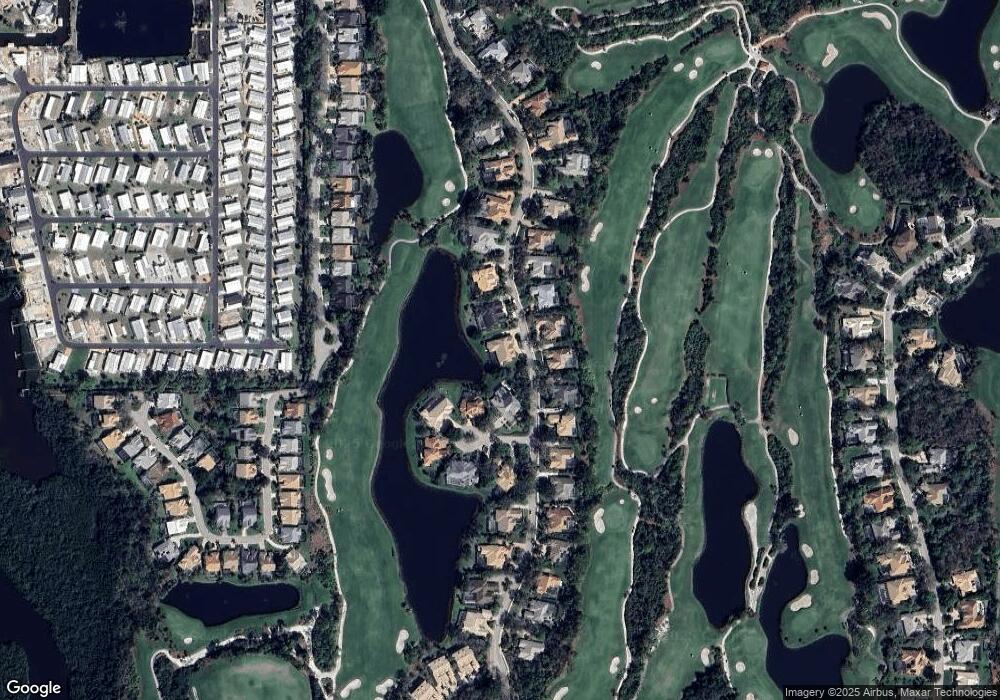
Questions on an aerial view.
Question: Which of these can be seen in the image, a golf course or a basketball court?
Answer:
golf course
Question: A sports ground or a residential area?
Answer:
residential area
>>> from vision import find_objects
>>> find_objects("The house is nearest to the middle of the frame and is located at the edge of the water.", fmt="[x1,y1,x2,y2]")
[481,336,516,361]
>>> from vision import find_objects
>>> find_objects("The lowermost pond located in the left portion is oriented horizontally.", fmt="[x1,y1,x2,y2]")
[161,580,299,627]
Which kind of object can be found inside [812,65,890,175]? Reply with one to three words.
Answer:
pond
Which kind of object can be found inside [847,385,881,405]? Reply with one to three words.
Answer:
house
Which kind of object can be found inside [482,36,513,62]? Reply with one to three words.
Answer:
house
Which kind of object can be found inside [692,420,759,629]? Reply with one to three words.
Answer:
pond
